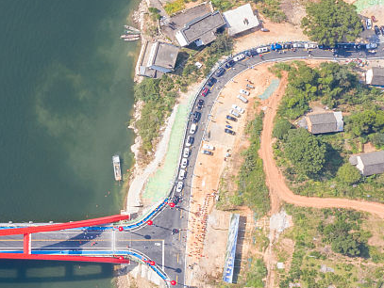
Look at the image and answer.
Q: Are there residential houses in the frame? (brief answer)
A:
Yes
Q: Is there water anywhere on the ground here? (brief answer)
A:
Yes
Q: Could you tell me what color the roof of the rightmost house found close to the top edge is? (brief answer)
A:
white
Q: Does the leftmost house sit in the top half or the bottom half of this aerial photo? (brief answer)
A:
top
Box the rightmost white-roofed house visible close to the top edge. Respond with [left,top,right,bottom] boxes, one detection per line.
[221,2,259,34]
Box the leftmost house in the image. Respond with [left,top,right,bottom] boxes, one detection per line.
[135,41,180,77]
